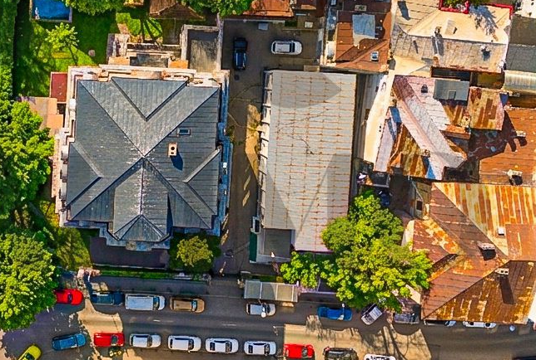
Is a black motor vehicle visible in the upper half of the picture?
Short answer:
Yes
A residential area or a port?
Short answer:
residential area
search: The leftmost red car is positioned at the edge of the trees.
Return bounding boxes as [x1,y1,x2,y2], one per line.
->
[49,289,84,306]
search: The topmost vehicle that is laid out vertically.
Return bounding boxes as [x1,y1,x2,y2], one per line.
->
[232,35,249,71]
